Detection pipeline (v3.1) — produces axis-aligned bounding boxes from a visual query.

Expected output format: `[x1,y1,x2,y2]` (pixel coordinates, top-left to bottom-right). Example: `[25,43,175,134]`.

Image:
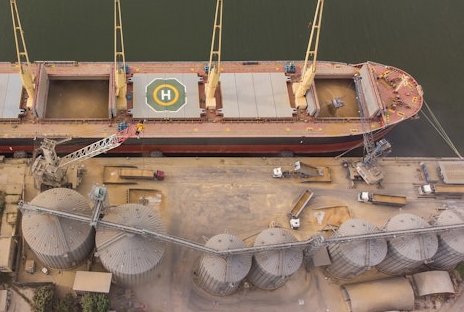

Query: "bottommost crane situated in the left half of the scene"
[23,122,146,185]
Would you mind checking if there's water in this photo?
Yes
